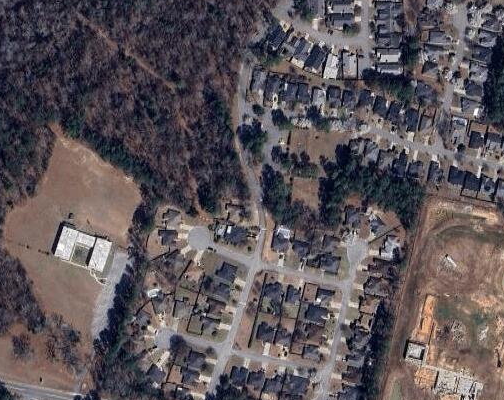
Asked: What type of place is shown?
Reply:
residential area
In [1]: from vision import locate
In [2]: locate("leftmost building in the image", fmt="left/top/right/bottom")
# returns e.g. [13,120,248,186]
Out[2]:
[55,226,112,273]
